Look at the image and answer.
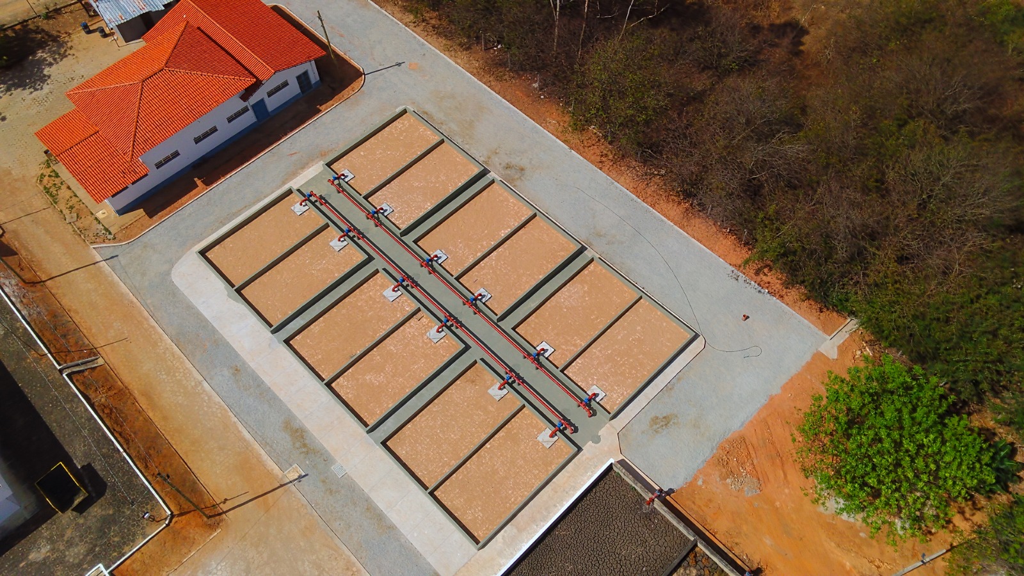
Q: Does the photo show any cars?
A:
No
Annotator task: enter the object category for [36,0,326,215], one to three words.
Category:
building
